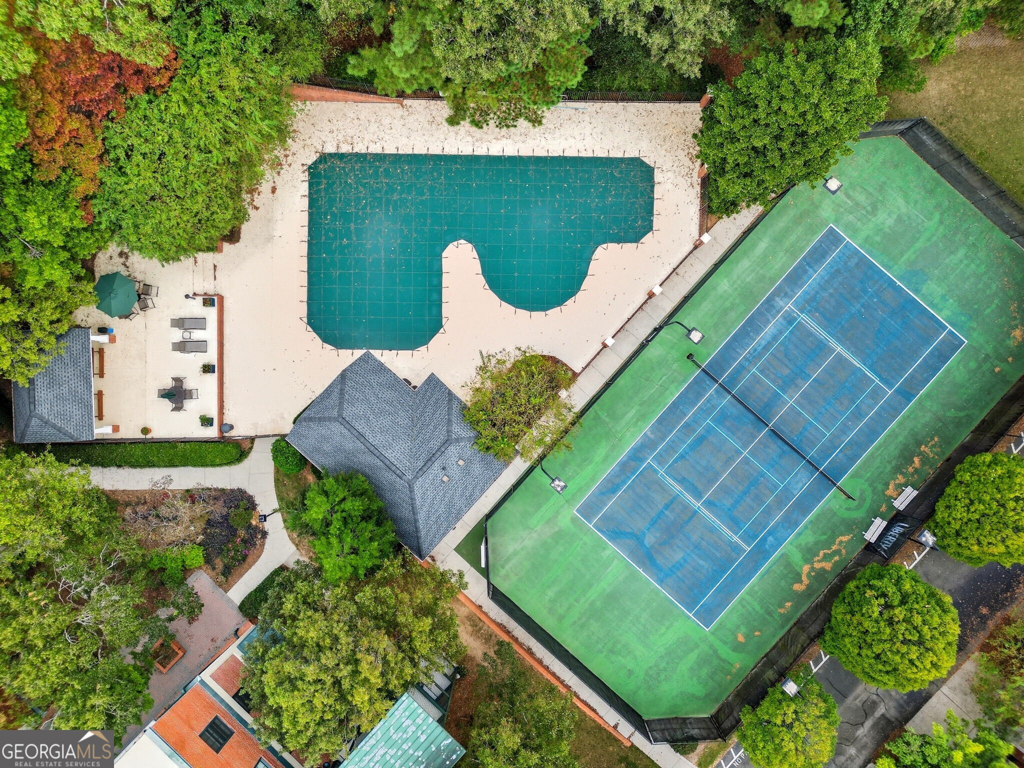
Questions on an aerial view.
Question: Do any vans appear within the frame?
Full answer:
No, I can see no van in this picture.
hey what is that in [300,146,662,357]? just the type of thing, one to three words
swimming pool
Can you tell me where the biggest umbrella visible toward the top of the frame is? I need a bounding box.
[94,272,140,318]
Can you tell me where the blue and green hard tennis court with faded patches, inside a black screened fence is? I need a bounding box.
[484,134,1024,721]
